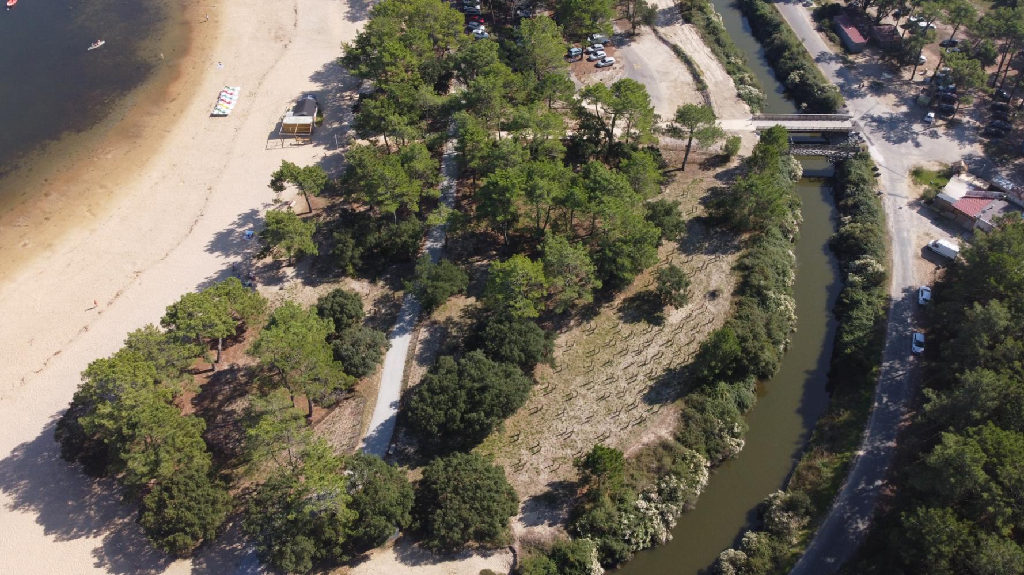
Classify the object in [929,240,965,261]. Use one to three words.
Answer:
vehicle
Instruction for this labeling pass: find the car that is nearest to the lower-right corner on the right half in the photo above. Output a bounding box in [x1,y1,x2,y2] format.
[913,330,927,351]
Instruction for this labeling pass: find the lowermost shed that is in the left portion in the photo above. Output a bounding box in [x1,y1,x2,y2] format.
[279,98,324,148]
